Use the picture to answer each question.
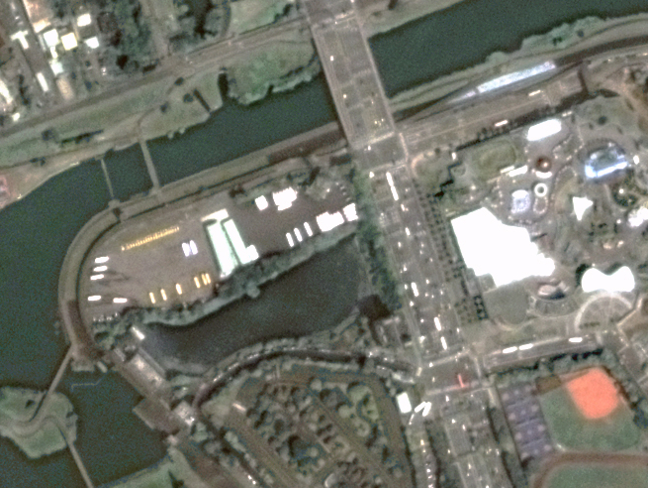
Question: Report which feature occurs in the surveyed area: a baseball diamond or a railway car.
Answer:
baseball diamond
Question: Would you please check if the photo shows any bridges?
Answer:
Yes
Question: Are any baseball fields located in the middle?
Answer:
No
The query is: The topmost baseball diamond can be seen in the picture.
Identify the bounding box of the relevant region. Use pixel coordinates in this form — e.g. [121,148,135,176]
[542,368,639,451]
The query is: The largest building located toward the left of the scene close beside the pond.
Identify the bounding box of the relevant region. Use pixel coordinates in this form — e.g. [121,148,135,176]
[124,354,164,394]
